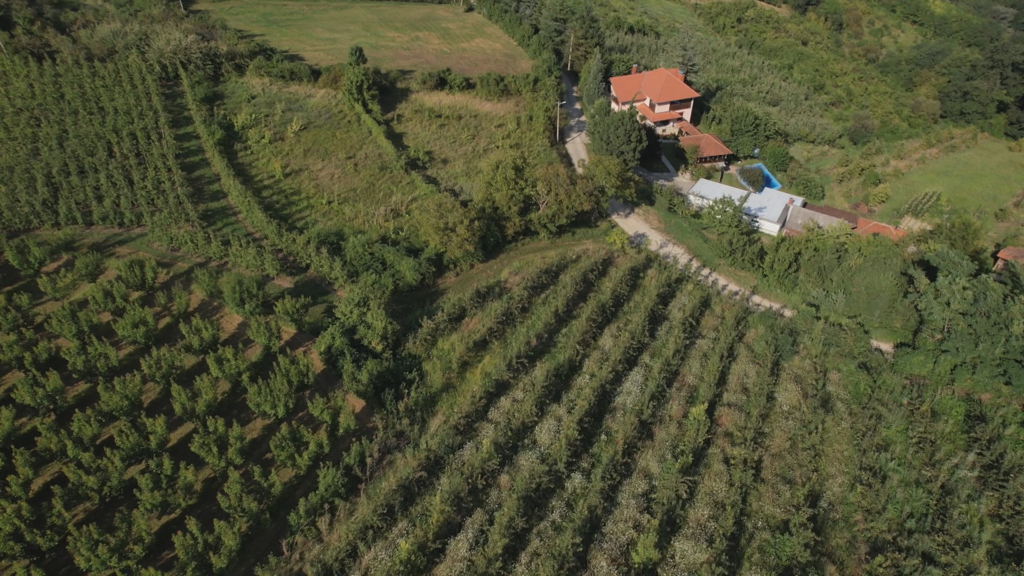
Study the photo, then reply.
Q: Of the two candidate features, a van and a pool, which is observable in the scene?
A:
pool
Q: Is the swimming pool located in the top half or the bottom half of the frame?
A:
top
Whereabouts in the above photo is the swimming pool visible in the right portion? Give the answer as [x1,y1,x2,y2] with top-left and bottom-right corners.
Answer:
[736,163,783,194]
